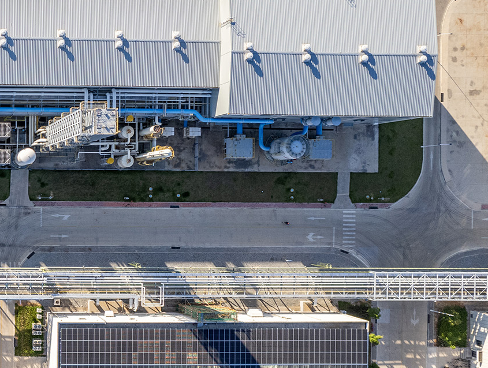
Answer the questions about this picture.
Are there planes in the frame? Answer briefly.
No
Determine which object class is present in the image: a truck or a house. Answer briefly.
house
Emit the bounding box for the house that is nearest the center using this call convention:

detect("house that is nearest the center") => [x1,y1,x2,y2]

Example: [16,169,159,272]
[216,123,256,158]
